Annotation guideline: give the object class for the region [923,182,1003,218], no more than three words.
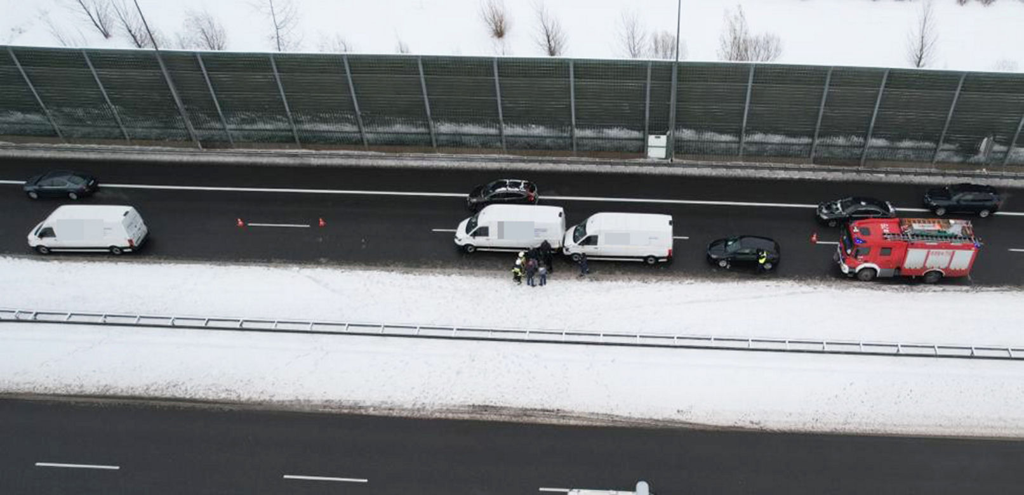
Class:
car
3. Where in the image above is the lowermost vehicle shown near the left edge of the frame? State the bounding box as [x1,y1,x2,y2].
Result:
[26,204,150,255]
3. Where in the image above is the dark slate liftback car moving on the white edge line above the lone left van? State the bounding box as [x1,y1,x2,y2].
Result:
[22,167,99,199]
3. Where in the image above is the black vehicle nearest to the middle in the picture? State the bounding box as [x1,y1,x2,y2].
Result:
[465,180,537,213]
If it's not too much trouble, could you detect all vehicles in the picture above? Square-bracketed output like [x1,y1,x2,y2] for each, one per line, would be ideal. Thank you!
[465,180,537,213]
[923,182,1003,218]
[26,204,150,255]
[708,234,781,272]
[836,217,982,284]
[566,484,652,495]
[560,213,673,264]
[22,167,99,199]
[814,195,896,227]
[454,204,565,255]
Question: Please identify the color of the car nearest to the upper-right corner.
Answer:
black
